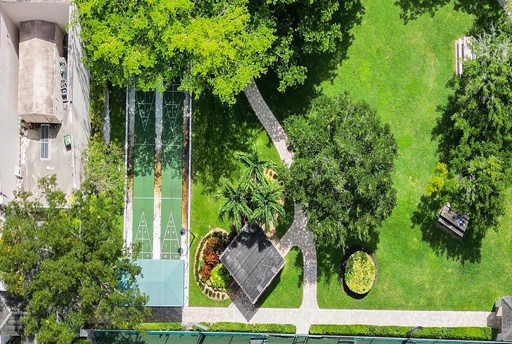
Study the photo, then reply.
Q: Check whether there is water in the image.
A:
No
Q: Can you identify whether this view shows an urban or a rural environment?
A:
rural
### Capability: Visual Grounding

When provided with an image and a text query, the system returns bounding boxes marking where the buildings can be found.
[220,222,286,304]
[19,20,62,122]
